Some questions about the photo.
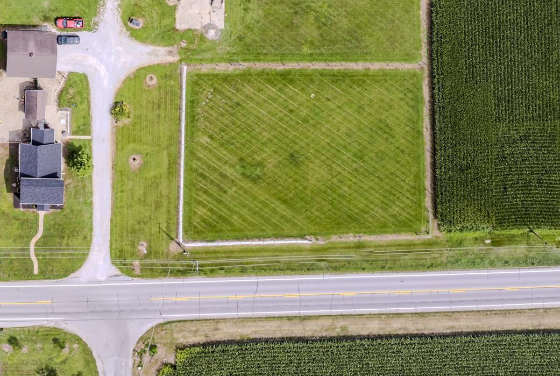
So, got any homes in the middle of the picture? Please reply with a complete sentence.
No, I can find no home in the middle of the picture.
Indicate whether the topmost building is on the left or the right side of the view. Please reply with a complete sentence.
The topmost building appears in the left half of the scene.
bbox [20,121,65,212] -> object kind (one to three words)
house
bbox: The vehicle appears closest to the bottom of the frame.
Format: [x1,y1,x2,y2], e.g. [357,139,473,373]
[58,34,81,46]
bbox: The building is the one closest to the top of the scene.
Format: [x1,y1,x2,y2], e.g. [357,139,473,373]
[6,30,57,78]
